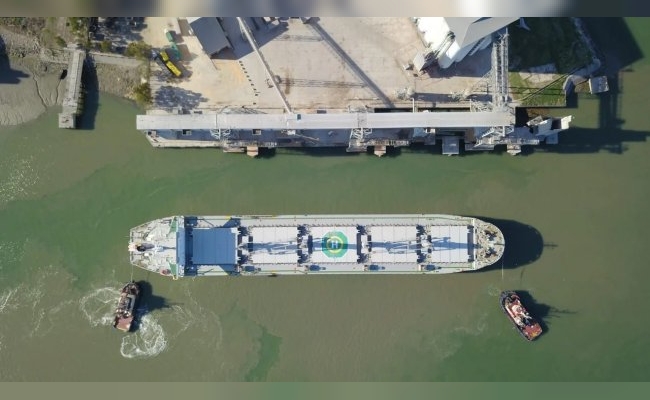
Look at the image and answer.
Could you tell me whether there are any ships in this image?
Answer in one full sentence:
Yes, a ship appears in the view.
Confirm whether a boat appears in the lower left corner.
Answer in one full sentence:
Yes, the scene does show a boat in the lower left corner.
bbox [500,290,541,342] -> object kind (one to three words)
boat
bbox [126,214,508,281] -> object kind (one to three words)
ship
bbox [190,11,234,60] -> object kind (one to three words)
shed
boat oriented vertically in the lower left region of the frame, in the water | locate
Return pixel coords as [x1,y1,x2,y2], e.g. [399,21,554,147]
[112,283,142,333]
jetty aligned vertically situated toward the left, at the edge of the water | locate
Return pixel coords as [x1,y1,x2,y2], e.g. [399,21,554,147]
[58,44,89,130]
